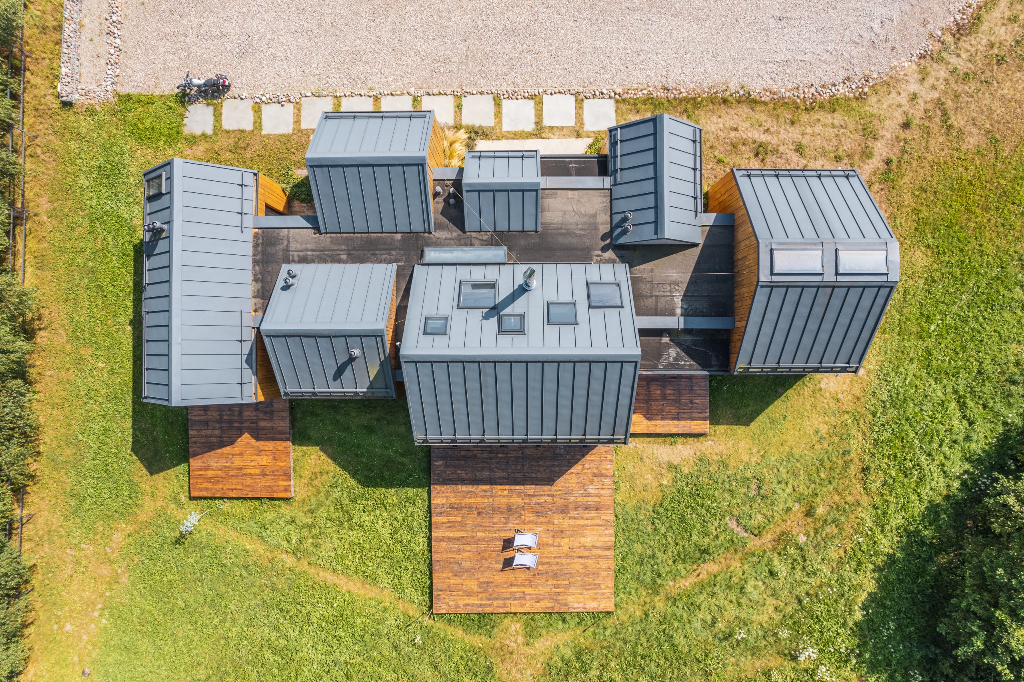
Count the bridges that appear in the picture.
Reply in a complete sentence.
There are no bridges in this view.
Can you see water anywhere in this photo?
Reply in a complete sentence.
No, there is no water in the image.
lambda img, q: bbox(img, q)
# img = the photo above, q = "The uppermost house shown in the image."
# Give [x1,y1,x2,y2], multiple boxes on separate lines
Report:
[137,108,901,448]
